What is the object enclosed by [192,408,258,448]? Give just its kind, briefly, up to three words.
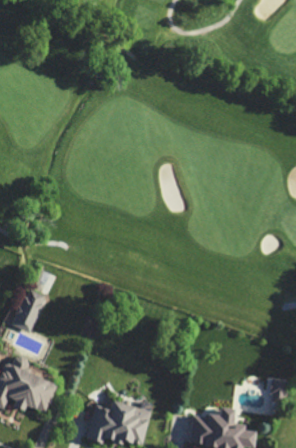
house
